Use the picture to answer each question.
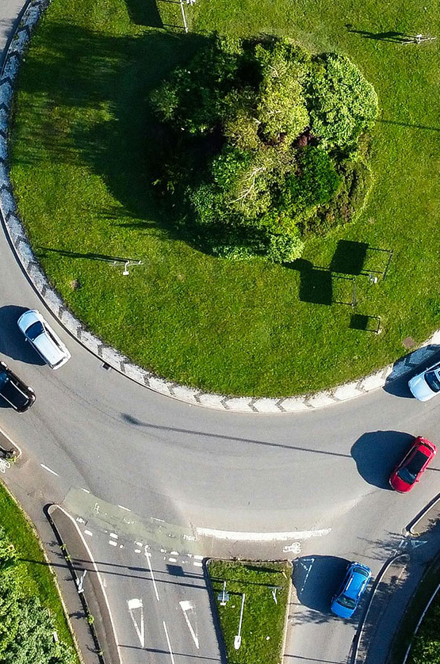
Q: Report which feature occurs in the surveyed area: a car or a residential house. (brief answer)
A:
car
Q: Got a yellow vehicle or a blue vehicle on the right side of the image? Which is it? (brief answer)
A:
blue vehicle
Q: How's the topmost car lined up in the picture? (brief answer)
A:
on a diagonal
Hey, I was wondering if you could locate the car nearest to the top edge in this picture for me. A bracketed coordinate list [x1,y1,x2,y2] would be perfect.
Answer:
[20,310,70,368]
